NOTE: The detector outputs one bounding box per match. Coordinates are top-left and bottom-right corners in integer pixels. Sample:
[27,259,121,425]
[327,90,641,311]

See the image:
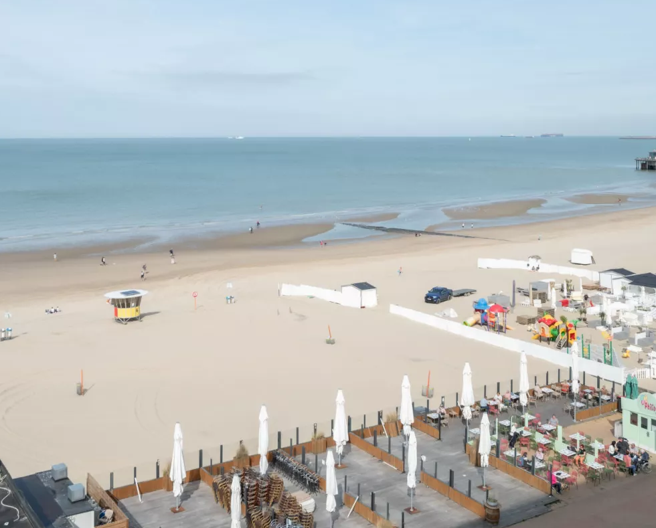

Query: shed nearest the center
[341,284,379,309]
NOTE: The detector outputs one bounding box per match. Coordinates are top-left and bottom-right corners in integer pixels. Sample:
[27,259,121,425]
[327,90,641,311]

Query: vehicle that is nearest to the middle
[425,283,450,303]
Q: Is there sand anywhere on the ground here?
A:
Yes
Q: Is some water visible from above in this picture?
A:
Yes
